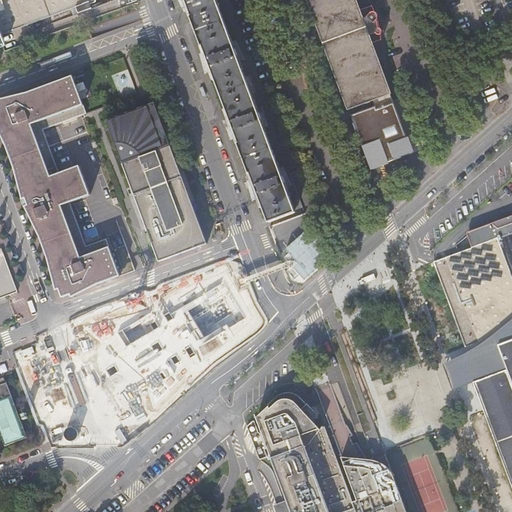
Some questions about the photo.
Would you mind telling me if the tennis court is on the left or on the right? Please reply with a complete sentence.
You can find the tennis court on the right side of the picture.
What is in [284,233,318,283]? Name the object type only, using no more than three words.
building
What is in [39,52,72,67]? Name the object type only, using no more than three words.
vehicle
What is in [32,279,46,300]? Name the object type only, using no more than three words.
vehicle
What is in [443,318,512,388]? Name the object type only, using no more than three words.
building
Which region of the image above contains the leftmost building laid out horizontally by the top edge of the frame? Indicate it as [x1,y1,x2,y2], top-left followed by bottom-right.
[8,0,78,29]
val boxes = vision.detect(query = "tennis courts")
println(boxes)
[378,436,462,512]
